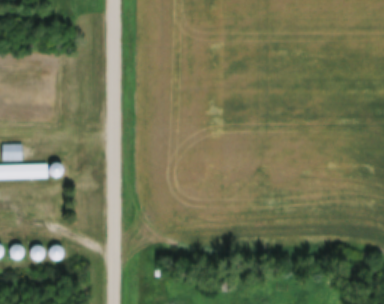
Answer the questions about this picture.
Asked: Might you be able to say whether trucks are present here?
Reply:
No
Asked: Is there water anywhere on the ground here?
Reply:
No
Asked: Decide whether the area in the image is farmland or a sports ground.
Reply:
farmland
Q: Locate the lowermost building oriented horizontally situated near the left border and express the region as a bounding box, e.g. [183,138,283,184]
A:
[0,163,48,180]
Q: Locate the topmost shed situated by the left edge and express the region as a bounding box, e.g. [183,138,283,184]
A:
[0,143,22,162]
